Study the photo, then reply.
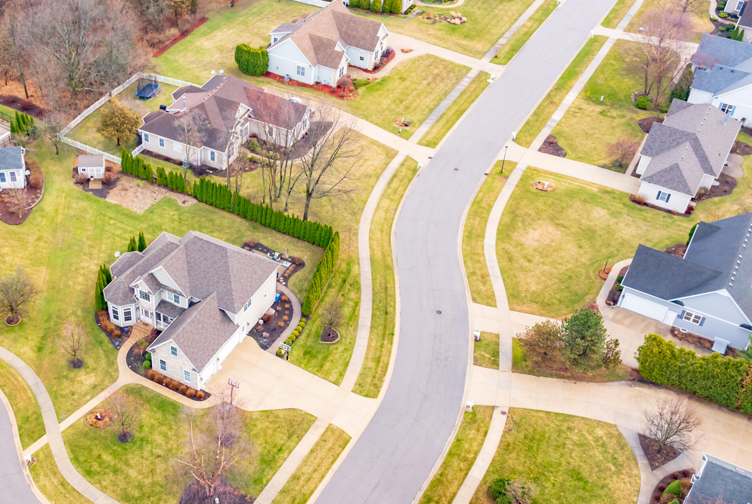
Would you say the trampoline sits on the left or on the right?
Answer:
left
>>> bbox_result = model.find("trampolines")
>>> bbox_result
[134,81,161,101]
